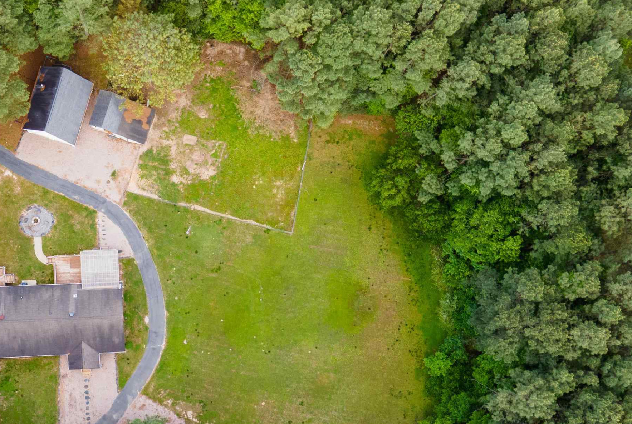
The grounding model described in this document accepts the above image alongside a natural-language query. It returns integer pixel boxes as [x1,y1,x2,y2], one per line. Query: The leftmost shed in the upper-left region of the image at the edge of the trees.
[20,66,94,149]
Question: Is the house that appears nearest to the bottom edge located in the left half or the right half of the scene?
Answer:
left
